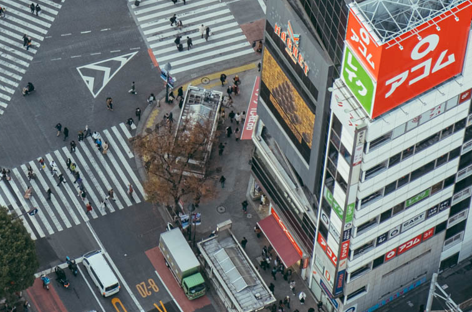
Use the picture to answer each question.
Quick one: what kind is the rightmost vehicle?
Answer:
truck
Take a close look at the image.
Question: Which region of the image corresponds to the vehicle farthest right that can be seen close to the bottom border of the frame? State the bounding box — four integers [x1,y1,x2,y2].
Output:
[155,216,211,299]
